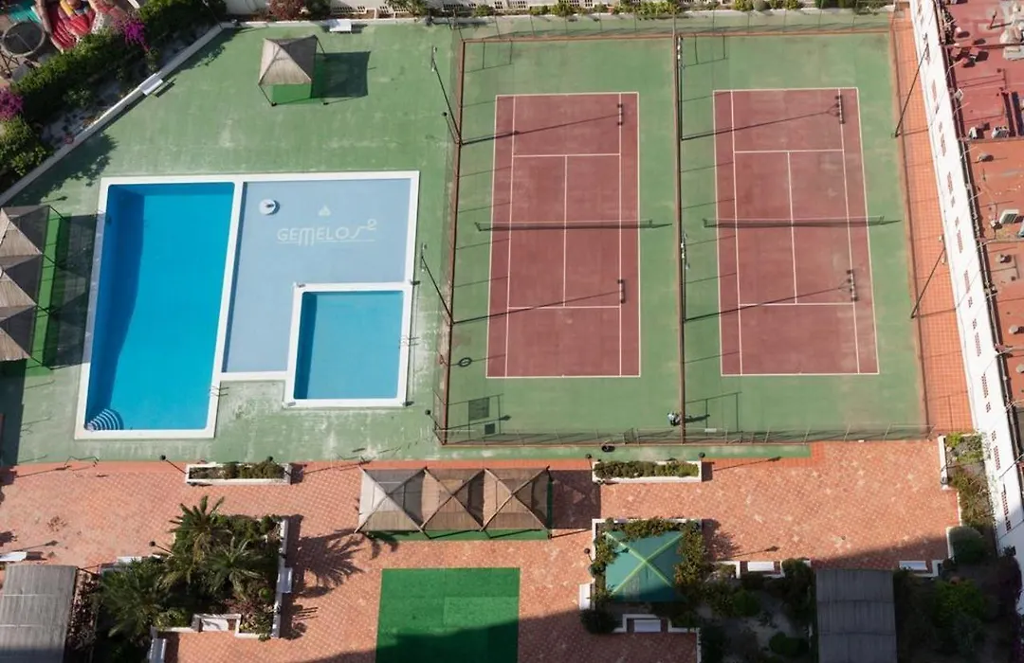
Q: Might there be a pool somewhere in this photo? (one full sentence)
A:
Yes, the image includes a pool.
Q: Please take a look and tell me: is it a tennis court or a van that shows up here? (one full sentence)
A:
There is a tennis court in the scene.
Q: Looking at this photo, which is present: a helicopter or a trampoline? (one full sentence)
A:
The image shows a trampoline.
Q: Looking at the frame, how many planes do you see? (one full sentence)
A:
The count of planes is 0.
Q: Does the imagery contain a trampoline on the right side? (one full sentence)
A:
No, looking on the right side, there is no trampoline.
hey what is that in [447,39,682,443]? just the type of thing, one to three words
tennis court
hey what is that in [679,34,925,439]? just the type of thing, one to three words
tennis court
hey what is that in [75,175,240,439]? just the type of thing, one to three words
swimming pool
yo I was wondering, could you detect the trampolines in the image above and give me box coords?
[1,21,47,62]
